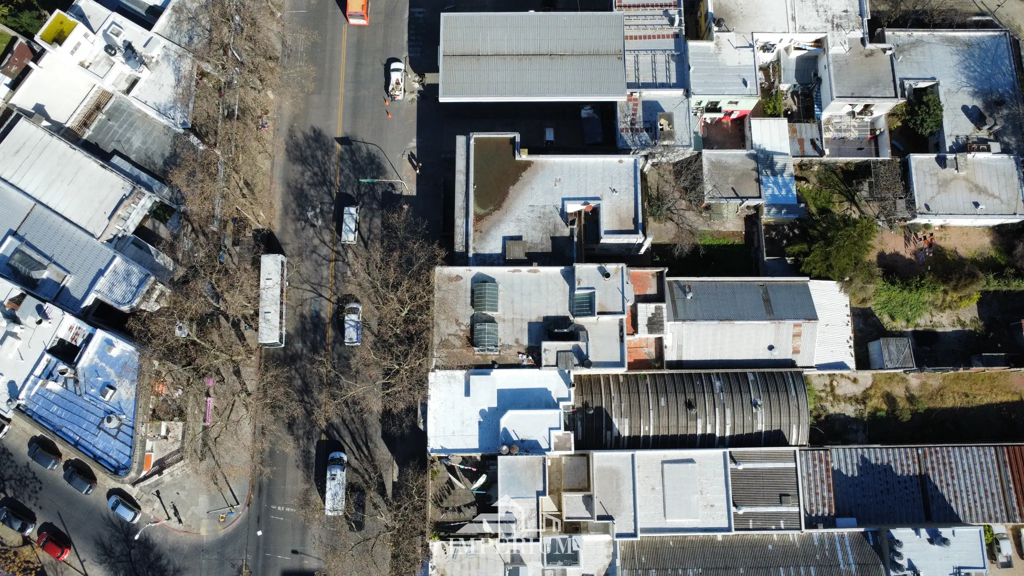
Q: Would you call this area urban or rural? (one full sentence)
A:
From above, the setting appears urban.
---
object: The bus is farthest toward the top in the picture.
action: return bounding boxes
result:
[346,0,371,25]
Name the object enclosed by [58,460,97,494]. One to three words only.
car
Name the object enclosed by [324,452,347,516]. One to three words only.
vehicle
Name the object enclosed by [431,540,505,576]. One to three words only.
house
